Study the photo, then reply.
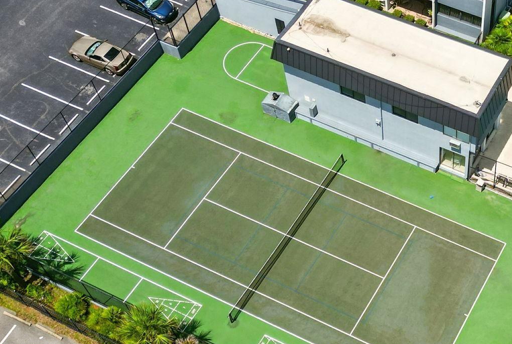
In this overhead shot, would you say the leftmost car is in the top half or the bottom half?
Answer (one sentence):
It is in the top half that the leftmost car appears.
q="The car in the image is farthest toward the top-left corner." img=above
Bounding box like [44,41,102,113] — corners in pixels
[70,8,133,45]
